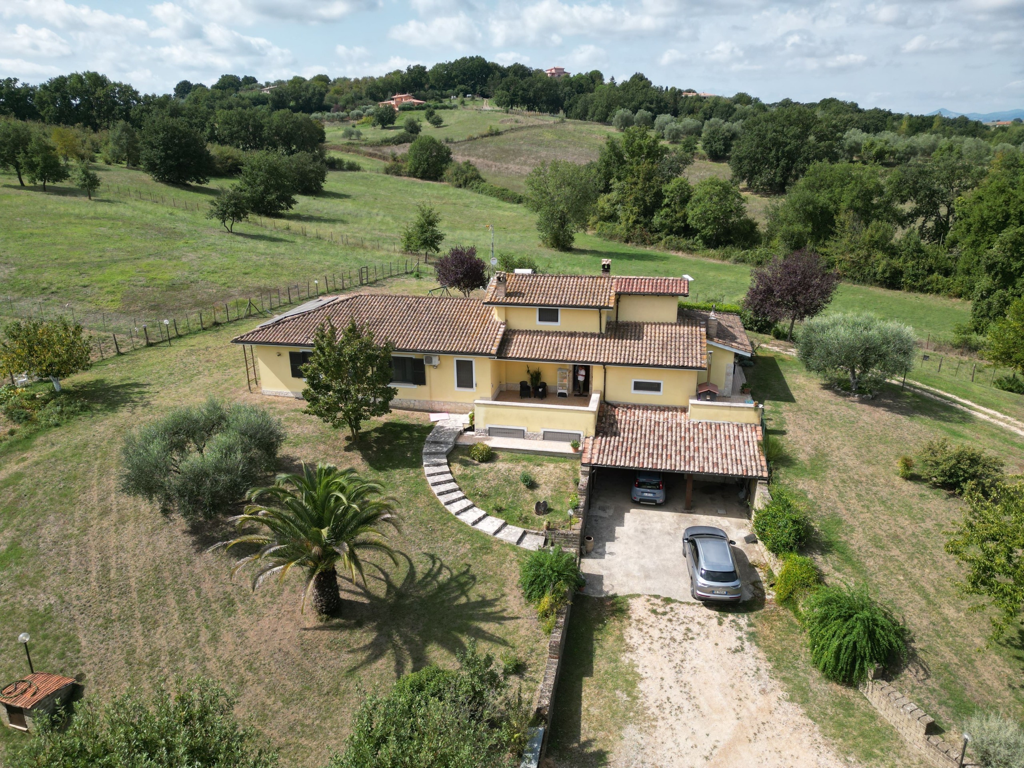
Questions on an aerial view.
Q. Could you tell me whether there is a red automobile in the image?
No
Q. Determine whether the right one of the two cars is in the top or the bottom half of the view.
bottom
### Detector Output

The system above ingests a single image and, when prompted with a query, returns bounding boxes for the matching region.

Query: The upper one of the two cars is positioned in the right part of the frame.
[630,472,665,505]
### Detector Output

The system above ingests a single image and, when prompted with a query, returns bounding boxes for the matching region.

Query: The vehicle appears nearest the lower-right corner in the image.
[685,531,746,608]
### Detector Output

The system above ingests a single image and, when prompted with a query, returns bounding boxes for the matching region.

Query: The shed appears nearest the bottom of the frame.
[0,670,70,738]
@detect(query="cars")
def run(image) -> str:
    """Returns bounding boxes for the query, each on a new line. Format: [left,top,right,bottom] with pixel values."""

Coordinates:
[685,531,746,608]
[630,472,665,505]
